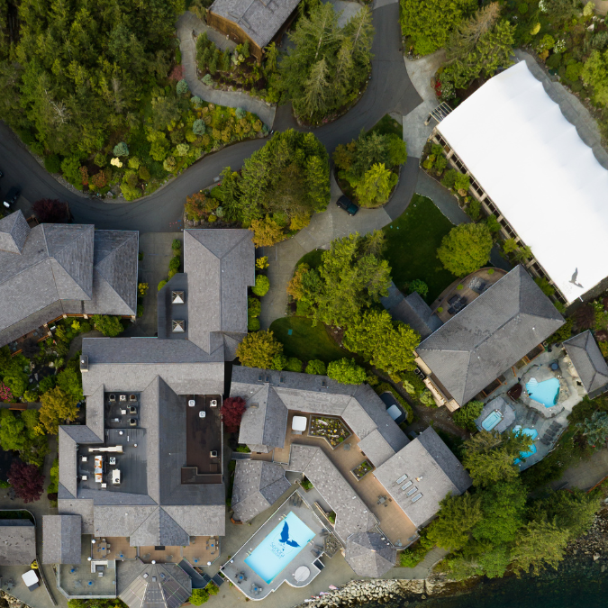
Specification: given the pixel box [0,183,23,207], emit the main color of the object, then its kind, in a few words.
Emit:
black car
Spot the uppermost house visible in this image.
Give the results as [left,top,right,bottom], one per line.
[208,0,303,54]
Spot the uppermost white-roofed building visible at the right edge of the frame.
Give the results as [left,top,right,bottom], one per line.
[428,61,608,311]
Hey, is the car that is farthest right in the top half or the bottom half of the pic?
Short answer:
top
